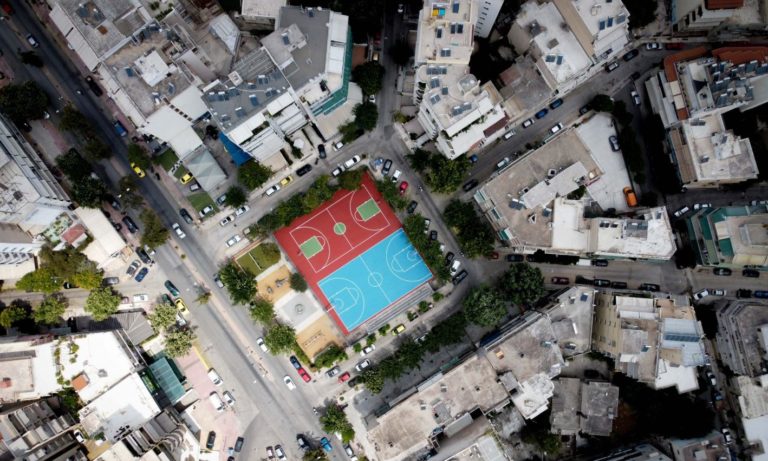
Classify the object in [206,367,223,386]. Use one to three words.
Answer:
vehicle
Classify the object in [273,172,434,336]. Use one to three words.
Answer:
sports court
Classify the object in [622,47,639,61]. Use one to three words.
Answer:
car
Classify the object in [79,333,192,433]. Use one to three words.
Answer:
building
